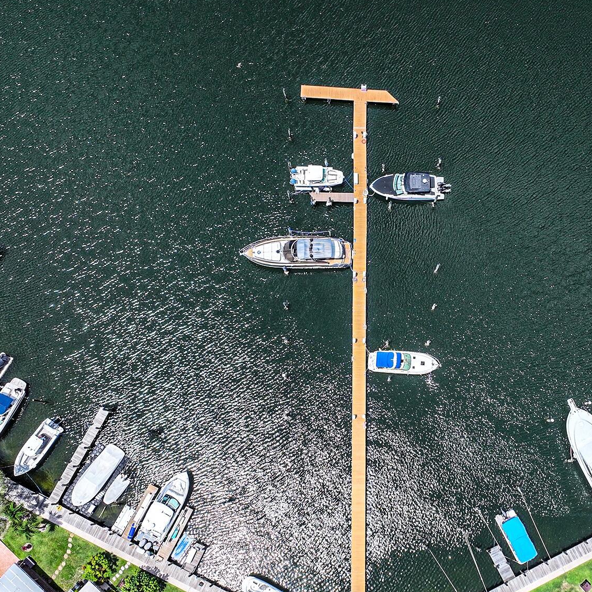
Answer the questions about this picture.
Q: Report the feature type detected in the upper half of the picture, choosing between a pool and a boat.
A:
boat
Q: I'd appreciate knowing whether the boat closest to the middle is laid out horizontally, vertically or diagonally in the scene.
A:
horizontally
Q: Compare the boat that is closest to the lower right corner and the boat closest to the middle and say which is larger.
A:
the boat closest to the middle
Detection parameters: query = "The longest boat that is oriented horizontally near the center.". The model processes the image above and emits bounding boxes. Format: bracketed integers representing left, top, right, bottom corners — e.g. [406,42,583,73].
[239,236,353,267]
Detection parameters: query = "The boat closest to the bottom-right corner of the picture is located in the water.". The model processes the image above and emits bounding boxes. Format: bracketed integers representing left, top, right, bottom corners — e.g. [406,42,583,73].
[497,508,538,566]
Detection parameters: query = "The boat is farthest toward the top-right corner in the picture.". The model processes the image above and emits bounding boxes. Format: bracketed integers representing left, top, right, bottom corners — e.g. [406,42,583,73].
[369,175,445,202]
